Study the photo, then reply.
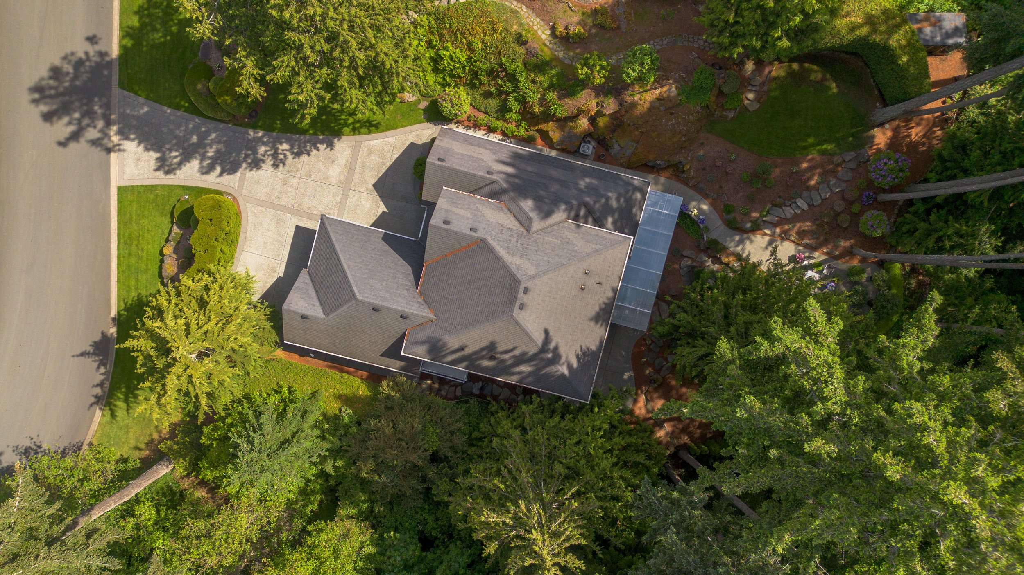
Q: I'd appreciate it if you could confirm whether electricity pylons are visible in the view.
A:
No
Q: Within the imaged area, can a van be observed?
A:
No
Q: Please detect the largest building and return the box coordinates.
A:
[281,124,683,405]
